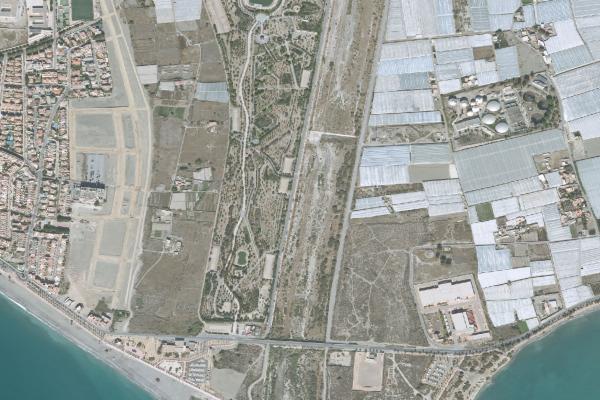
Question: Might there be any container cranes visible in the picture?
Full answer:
No, this view has no container crane in it.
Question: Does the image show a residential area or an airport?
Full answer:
The picture captures a residential area.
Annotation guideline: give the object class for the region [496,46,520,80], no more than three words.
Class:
greenhouse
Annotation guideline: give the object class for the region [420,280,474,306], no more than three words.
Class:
building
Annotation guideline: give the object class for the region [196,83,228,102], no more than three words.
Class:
greenhouse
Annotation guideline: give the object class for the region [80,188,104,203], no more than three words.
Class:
building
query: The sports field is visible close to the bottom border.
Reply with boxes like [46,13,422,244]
[352,352,383,392]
